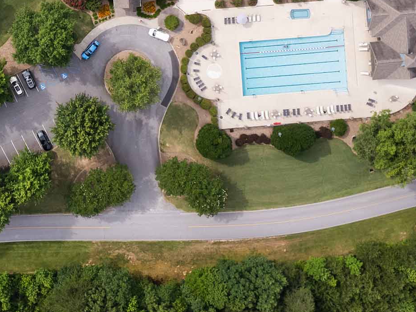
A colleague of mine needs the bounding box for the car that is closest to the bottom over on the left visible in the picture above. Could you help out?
[38,131,53,152]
